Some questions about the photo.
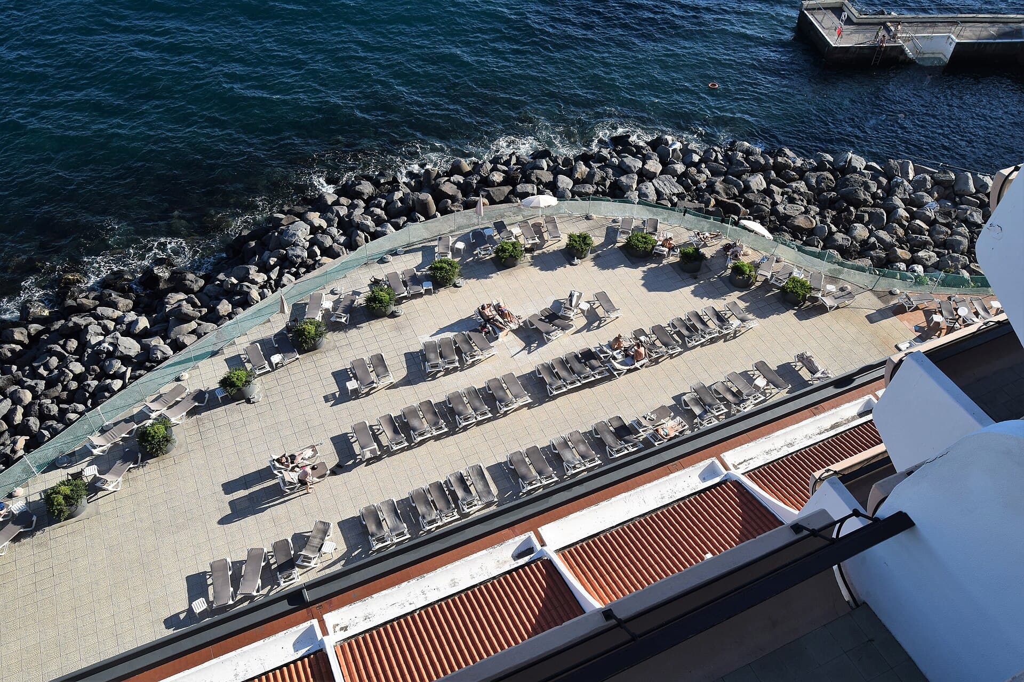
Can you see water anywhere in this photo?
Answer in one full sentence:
Yes, there's water in this view.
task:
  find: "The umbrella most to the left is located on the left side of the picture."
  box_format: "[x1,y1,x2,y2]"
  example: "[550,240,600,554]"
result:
[275,294,295,323]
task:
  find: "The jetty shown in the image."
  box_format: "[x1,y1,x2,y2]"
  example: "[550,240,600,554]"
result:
[790,0,1024,69]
